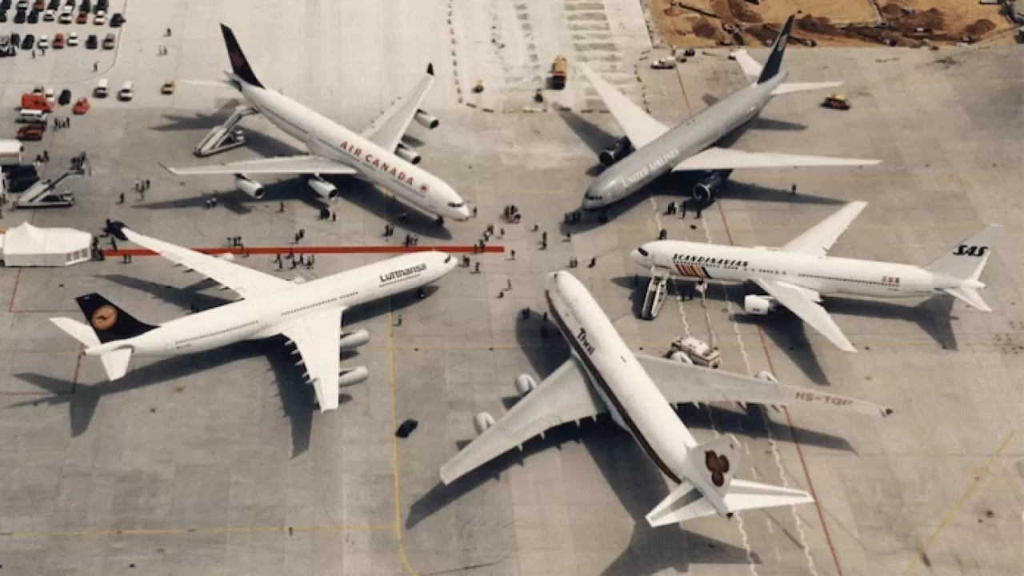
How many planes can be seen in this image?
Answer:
five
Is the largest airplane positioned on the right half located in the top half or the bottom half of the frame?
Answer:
bottom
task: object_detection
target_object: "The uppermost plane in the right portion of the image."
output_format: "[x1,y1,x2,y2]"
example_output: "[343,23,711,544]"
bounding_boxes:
[577,15,880,221]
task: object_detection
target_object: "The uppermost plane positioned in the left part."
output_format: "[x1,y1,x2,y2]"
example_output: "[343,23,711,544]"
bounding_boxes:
[154,23,473,224]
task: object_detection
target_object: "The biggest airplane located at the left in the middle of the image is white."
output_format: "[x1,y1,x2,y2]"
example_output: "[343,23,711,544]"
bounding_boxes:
[49,224,458,414]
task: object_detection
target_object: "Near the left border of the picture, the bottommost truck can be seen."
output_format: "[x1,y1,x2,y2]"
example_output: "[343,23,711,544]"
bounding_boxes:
[1,164,42,195]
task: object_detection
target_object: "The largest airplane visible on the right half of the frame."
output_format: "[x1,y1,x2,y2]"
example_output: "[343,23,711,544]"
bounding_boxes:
[446,268,889,528]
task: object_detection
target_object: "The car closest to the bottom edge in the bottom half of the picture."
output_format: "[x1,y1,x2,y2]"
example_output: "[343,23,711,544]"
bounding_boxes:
[394,418,419,433]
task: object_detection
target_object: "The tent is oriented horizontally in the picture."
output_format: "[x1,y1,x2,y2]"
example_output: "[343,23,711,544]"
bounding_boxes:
[3,223,92,266]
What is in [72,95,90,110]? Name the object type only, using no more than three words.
car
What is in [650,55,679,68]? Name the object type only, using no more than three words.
vehicle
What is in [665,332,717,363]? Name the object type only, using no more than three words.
truck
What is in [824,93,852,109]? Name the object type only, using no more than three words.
vehicle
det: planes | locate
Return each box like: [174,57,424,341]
[446,268,889,528]
[49,224,458,414]
[154,23,473,224]
[631,201,1006,351]
[577,15,880,221]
